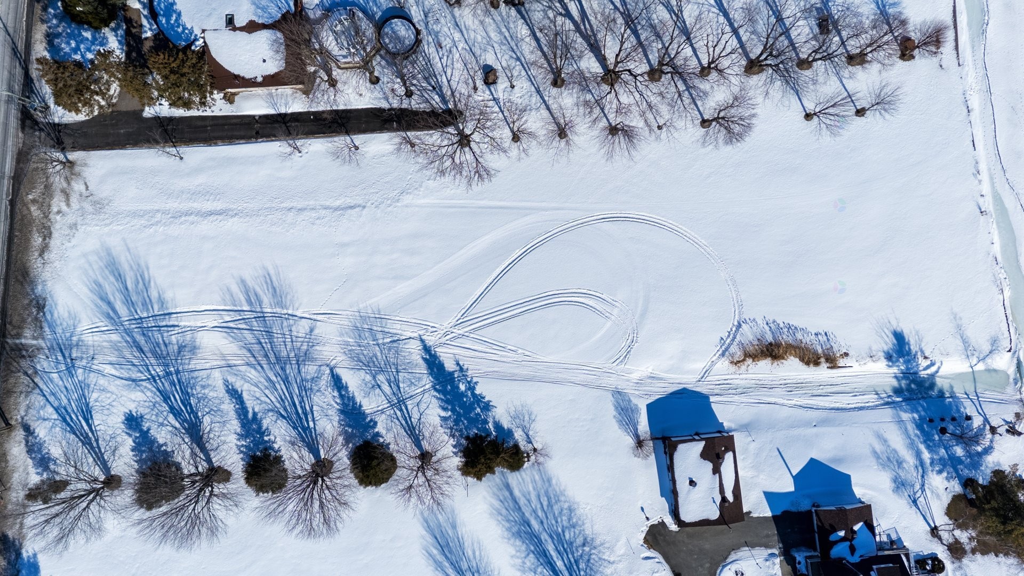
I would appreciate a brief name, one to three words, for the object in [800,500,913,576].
house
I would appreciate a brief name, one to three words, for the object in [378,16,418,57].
swimming pool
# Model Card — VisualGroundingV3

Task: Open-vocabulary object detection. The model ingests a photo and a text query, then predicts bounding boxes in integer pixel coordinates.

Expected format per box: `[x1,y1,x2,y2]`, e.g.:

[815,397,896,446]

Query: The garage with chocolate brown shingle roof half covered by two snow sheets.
[664,431,745,528]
